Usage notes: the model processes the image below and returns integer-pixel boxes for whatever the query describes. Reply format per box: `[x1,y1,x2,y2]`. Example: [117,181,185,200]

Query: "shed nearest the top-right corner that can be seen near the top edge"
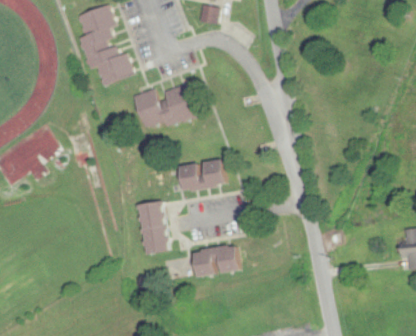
[202,4,222,24]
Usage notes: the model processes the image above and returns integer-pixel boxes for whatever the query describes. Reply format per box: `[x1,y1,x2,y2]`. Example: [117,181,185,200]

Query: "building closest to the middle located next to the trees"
[178,159,228,190]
